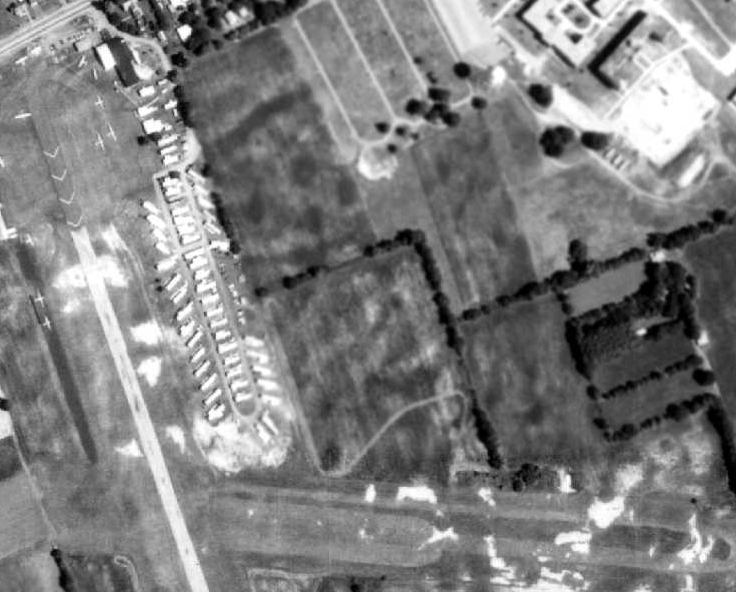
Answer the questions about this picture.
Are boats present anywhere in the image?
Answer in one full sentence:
No, the picture doesn't show any boat.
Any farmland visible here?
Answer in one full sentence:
Yes, some farmland is visible.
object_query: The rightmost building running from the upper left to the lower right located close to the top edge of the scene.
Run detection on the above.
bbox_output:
[522,0,597,68]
